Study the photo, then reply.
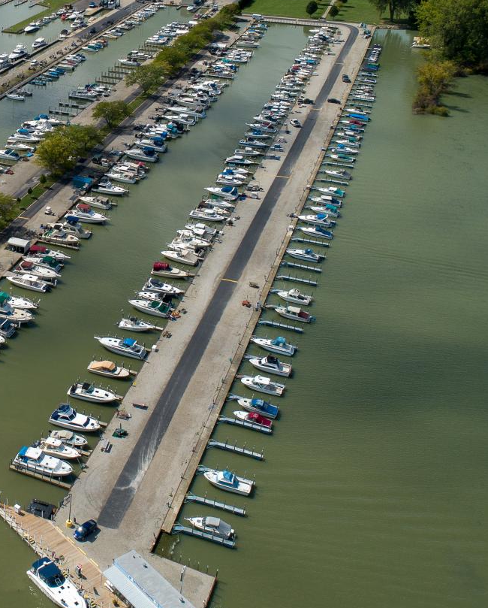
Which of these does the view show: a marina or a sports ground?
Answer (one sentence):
The picture captures a marina.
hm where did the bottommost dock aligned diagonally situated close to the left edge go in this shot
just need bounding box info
[0,505,118,608]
